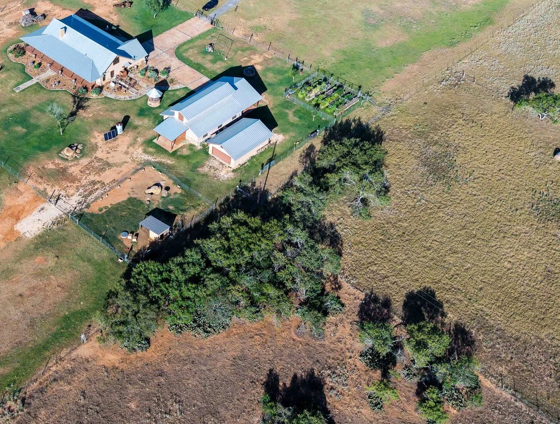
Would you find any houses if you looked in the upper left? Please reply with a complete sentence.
Yes, a house can be seen in the upper left.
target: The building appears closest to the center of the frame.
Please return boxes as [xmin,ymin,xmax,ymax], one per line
[207,118,273,168]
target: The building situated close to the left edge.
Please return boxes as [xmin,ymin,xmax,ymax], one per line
[21,13,149,92]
